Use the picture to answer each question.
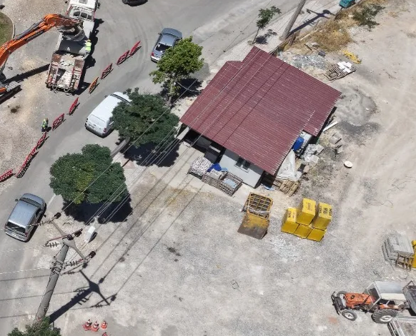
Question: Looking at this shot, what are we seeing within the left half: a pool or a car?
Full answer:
You can see a car within the left half.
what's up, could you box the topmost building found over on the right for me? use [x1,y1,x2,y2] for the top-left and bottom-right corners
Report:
[168,45,341,190]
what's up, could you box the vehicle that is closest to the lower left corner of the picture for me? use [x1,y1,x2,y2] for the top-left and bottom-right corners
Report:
[1,193,52,247]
